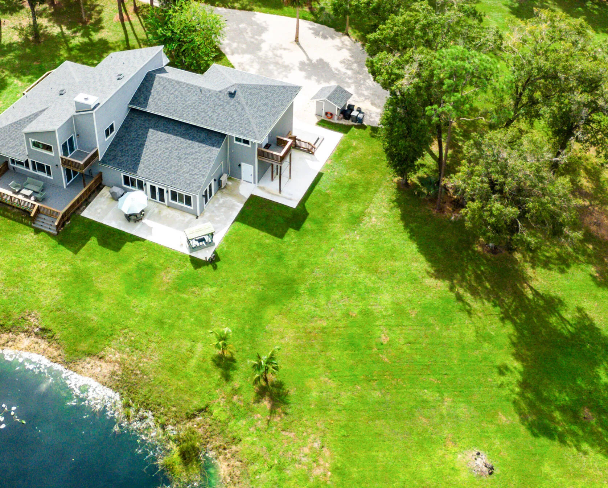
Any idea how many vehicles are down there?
0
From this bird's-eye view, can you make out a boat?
No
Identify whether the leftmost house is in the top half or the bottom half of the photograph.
top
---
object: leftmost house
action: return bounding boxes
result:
[0,45,321,217]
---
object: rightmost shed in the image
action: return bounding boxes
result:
[313,82,350,122]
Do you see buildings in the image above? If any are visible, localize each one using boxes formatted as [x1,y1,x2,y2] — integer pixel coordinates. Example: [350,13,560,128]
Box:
[0,45,321,217]
[313,82,350,122]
